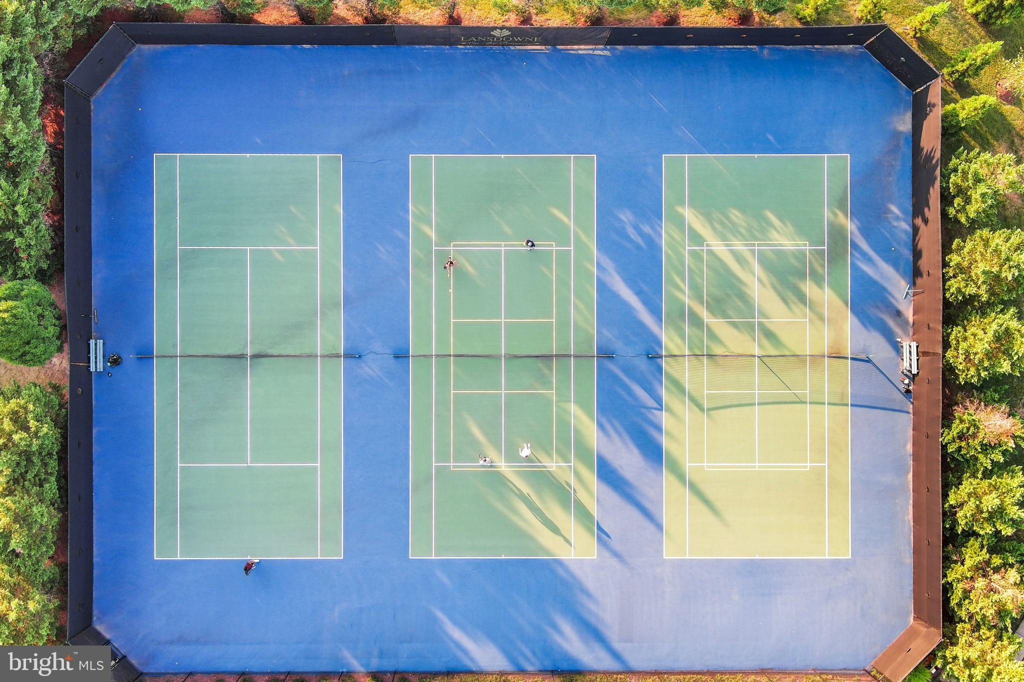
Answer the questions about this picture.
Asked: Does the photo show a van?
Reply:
No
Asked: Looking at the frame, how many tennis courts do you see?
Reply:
3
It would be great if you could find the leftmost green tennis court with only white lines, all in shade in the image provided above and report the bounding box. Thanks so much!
[154,154,342,560]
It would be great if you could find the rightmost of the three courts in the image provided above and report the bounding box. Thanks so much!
[663,154,851,559]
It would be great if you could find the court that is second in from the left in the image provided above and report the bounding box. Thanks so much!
[409,154,597,559]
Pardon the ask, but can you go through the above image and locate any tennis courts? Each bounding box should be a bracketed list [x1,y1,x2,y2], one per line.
[409,154,597,559]
[154,154,342,560]
[663,154,851,559]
